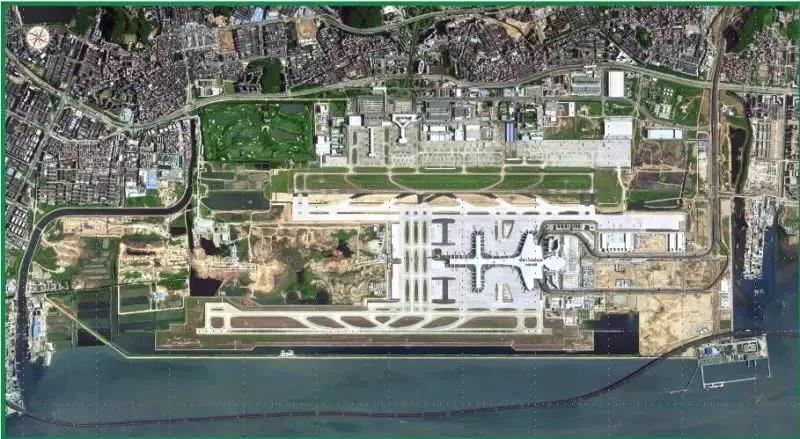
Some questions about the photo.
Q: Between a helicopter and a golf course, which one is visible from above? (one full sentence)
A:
It is a golf course that can be seen here.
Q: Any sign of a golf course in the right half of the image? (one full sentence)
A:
No, I can find no golf course in the right half of the image.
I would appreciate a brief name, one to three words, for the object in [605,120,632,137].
building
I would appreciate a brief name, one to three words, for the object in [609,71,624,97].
building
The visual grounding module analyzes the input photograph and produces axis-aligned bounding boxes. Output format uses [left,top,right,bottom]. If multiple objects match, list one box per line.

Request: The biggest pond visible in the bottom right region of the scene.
[594,312,638,354]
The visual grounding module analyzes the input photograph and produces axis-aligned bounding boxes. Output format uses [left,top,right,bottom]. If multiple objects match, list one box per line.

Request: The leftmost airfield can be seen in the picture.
[155,114,684,352]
